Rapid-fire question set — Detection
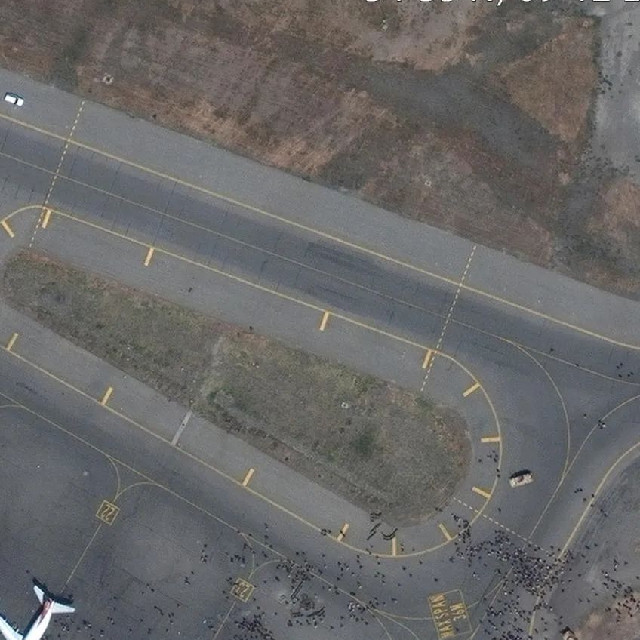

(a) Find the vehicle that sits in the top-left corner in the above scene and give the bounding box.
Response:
[5,94,26,107]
